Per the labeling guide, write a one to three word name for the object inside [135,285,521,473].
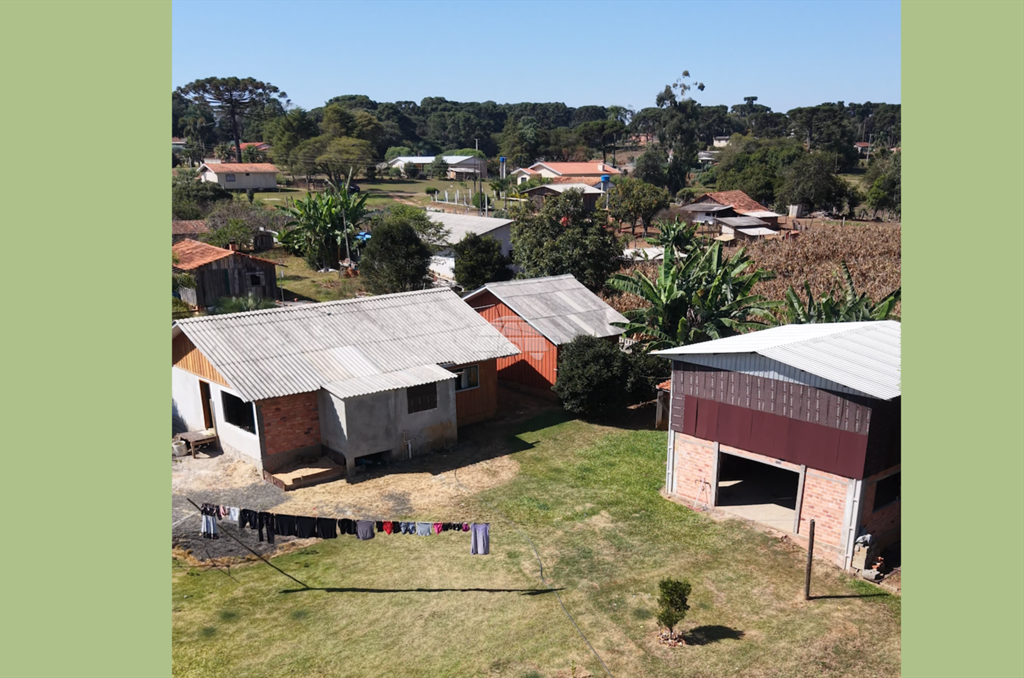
house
